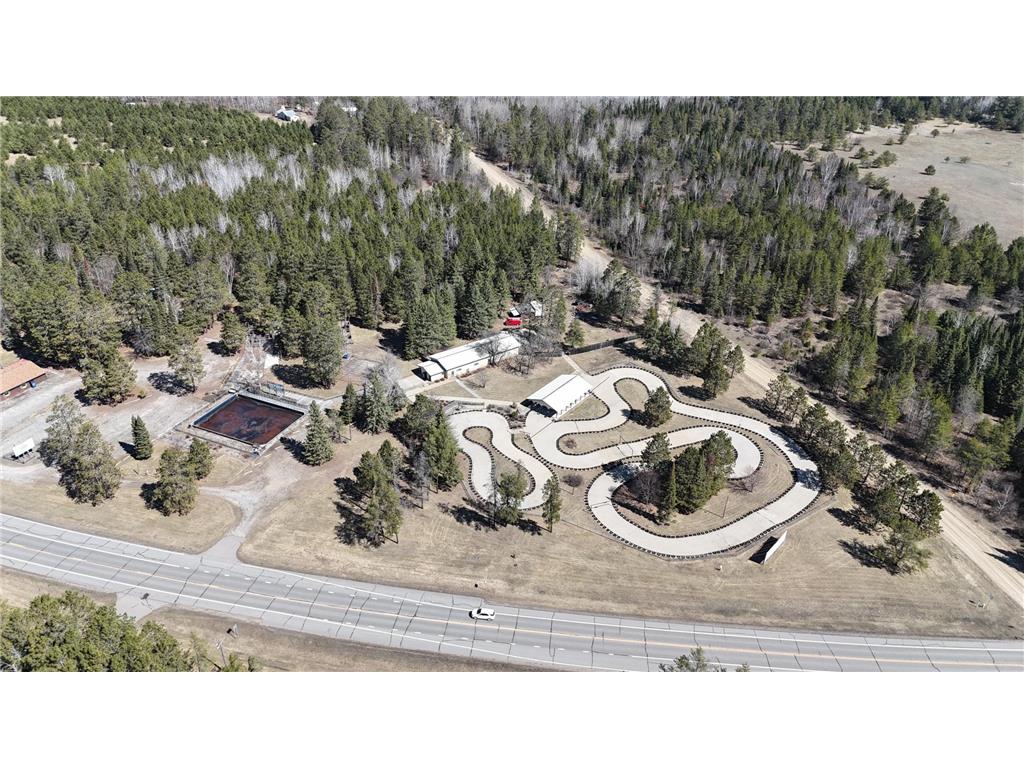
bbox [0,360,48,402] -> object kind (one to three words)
building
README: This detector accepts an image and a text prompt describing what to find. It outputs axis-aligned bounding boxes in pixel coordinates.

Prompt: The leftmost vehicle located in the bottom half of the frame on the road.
[471,608,495,621]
